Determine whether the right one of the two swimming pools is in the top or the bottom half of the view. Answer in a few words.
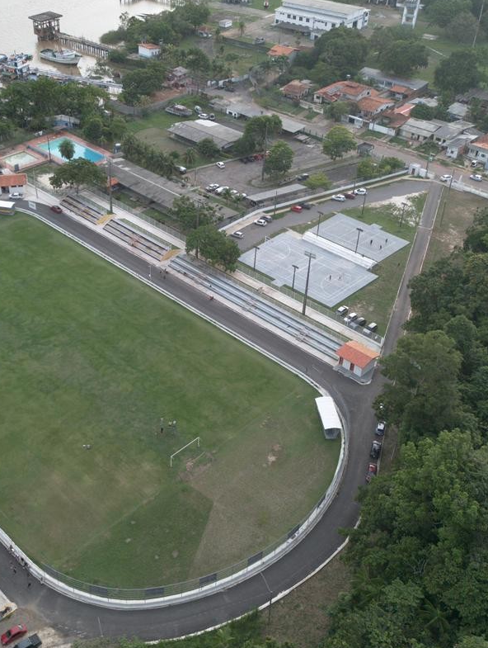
top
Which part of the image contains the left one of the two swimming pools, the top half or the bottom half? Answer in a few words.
top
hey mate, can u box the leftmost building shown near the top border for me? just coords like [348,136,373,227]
[26,11,65,43]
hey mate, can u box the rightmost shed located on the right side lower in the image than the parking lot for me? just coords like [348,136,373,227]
[335,342,380,377]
